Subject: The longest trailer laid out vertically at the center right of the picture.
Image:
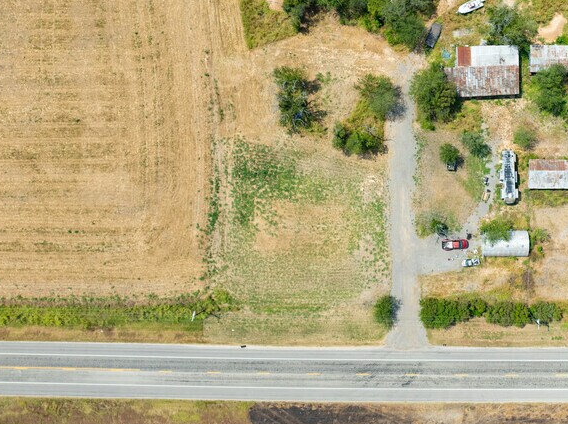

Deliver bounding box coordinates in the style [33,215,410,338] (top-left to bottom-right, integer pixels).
[499,151,518,203]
